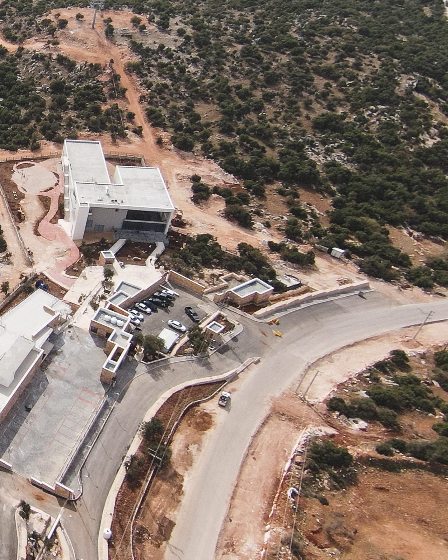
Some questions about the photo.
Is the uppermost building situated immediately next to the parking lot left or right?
left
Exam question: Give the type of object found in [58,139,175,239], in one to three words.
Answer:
building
